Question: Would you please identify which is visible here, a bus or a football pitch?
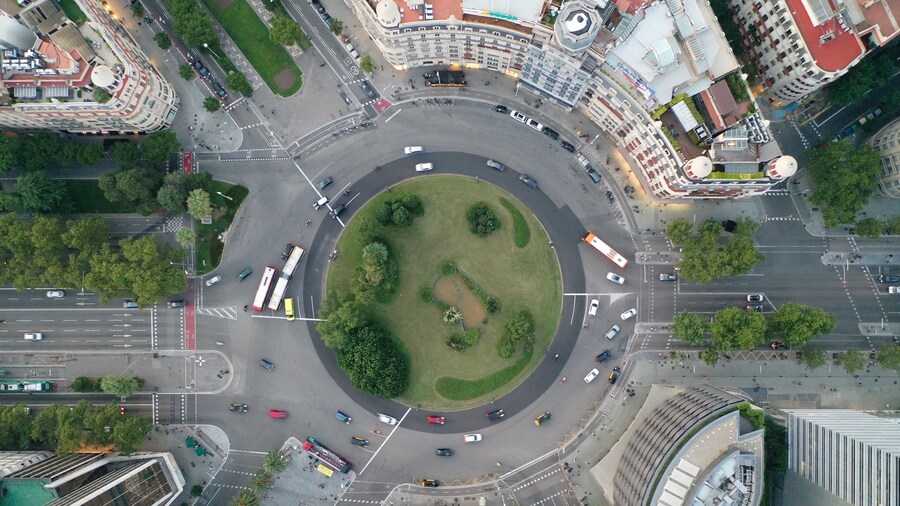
bus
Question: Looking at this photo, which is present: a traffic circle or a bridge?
traffic circle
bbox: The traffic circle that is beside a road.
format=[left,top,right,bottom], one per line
[197,98,650,490]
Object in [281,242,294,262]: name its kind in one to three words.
vehicle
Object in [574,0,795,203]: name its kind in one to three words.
building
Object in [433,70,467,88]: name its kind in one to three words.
building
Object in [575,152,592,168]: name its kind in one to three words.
vehicle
